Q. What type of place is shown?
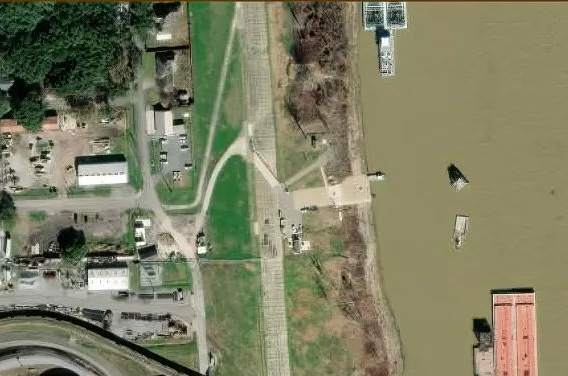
port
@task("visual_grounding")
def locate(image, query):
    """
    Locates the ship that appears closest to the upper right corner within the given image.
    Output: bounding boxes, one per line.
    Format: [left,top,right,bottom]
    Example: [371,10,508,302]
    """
[386,0,406,27]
